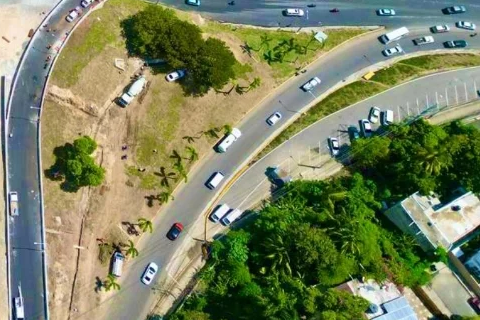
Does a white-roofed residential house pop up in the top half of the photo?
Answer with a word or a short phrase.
No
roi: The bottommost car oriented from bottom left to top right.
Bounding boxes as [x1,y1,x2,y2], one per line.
[140,261,160,286]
